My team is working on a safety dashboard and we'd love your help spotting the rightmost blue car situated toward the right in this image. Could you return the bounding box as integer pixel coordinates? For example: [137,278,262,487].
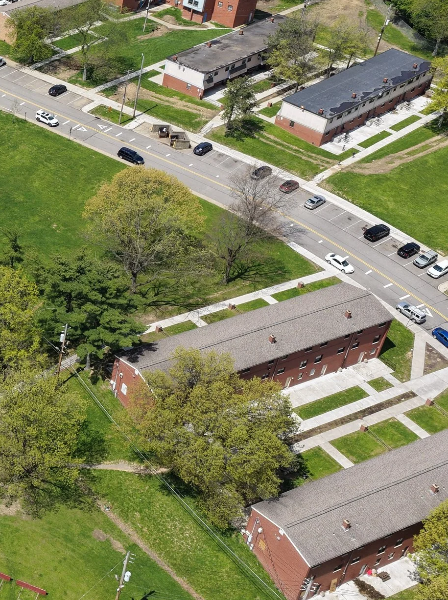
[428,330,448,348]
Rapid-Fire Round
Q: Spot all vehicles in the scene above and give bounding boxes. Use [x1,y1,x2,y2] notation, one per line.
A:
[36,110,60,126]
[412,248,441,268]
[302,196,327,210]
[393,303,430,324]
[278,180,302,194]
[428,330,448,348]
[394,242,423,259]
[363,224,391,241]
[323,254,356,274]
[0,56,7,66]
[425,261,448,278]
[48,85,68,97]
[118,146,143,165]
[192,141,214,155]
